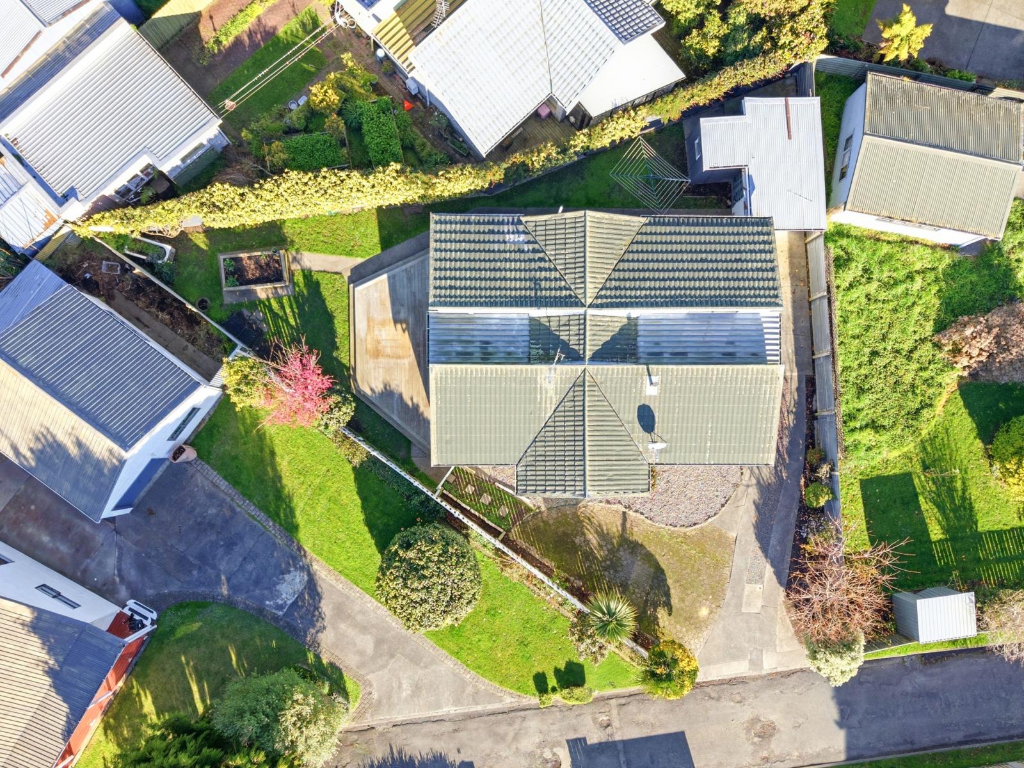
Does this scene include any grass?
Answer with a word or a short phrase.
Yes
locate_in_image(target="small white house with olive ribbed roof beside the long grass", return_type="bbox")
[832,69,1024,247]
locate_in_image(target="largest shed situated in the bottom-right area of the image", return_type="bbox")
[892,580,977,643]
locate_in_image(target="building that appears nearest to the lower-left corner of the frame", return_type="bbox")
[0,544,161,768]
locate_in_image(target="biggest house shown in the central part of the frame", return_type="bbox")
[428,209,785,499]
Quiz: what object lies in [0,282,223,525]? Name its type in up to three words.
house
